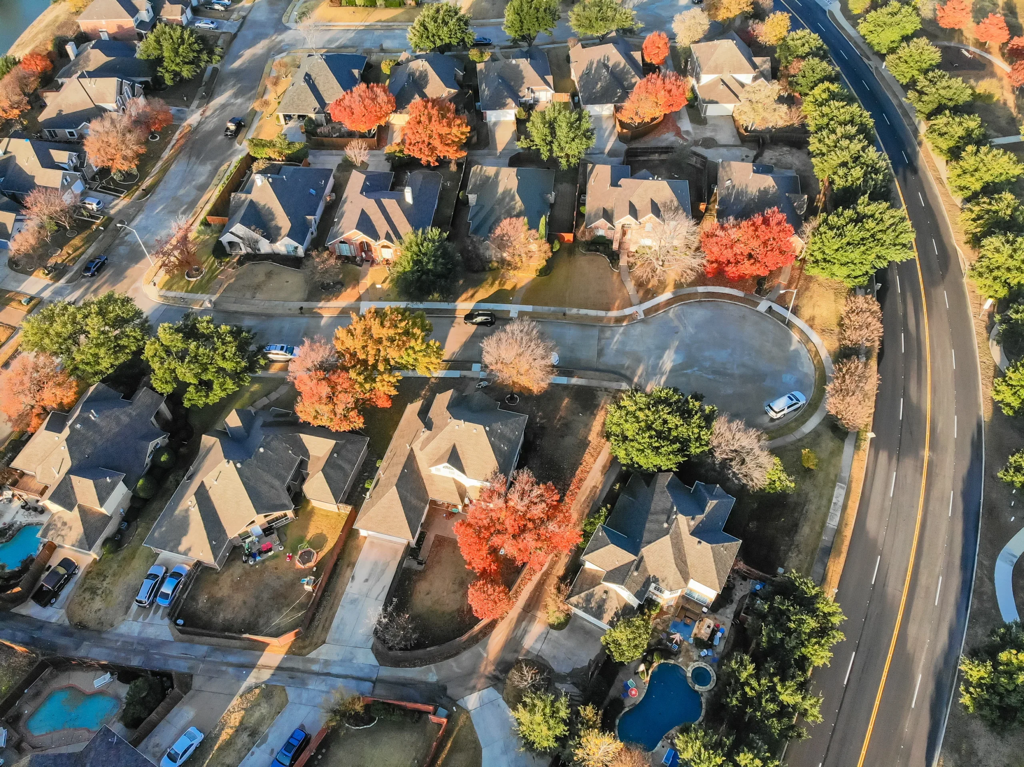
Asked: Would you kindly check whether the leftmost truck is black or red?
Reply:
black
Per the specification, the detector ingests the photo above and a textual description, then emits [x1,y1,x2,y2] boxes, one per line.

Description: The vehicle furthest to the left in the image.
[25,553,83,610]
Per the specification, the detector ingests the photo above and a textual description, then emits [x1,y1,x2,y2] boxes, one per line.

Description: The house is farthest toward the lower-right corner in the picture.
[562,466,743,637]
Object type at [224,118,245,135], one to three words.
vehicle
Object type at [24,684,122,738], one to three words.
swimming pool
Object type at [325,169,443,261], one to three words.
house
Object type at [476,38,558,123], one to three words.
house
